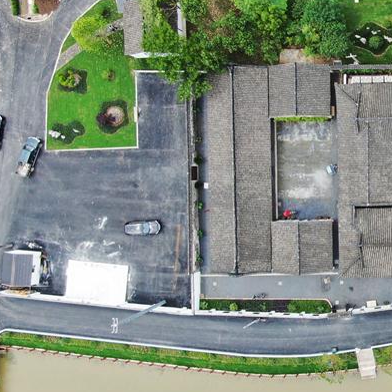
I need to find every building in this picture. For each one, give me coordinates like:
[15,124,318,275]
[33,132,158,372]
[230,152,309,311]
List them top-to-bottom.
[121,0,163,62]
[198,59,335,278]
[335,82,392,278]
[4,250,43,287]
